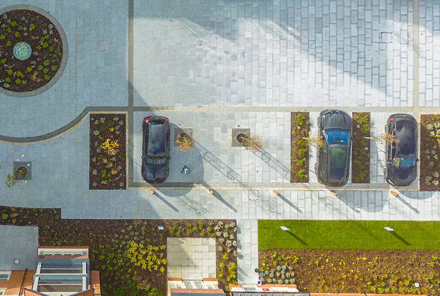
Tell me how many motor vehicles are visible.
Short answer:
three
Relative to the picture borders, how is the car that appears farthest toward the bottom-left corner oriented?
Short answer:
up and down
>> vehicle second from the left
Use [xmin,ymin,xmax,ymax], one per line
[313,109,357,186]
